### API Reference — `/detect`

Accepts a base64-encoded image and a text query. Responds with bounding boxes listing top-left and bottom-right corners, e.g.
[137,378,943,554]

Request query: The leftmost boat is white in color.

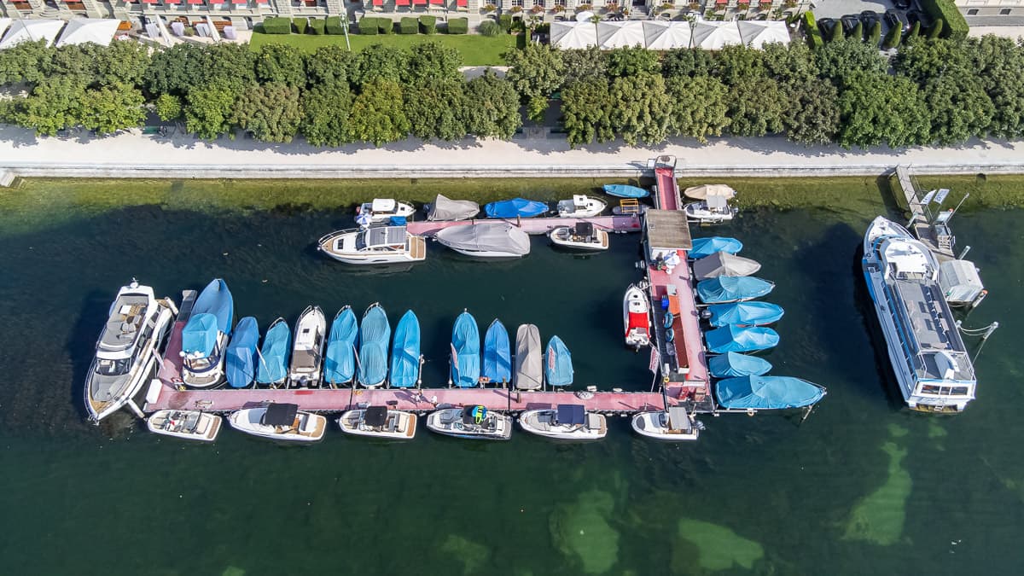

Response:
[86,273,180,427]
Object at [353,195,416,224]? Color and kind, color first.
white boat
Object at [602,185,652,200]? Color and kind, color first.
blue boat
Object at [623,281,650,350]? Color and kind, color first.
white boat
